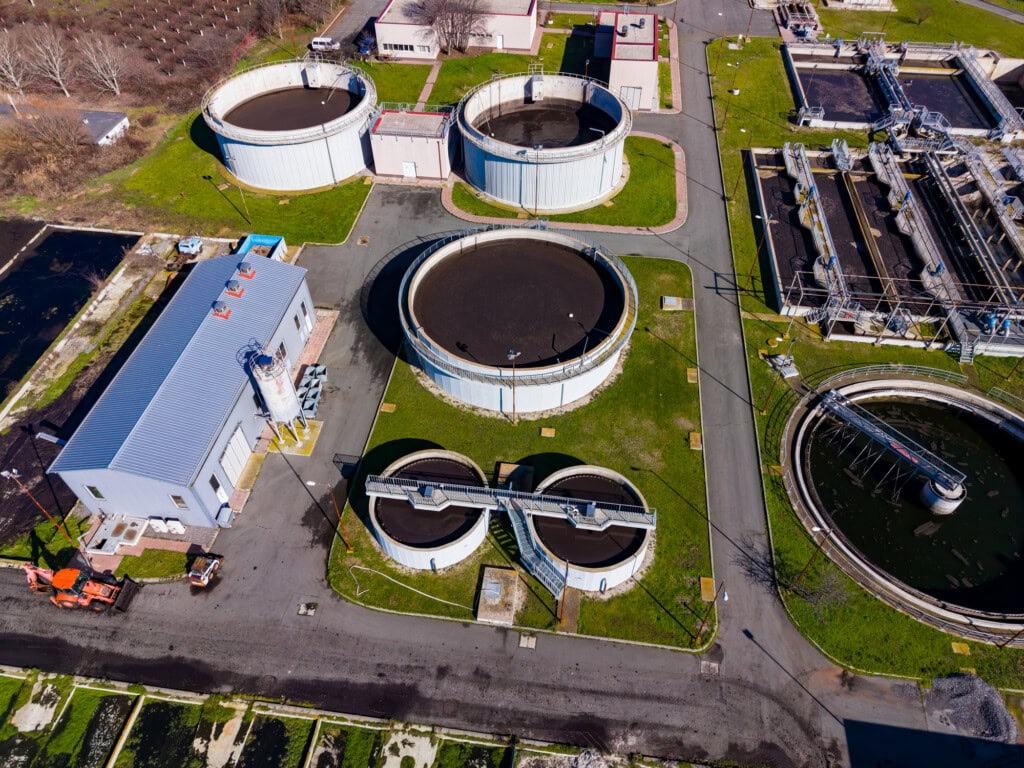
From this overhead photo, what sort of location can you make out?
industrial area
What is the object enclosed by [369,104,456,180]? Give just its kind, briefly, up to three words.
building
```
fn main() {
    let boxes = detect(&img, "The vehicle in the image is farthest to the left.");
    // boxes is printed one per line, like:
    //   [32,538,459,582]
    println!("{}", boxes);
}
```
[19,551,138,618]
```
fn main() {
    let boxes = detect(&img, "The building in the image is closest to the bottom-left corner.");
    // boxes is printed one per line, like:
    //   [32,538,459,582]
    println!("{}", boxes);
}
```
[50,249,313,527]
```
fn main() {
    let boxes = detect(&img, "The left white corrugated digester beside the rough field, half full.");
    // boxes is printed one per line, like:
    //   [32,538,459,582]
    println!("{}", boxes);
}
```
[200,48,375,189]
